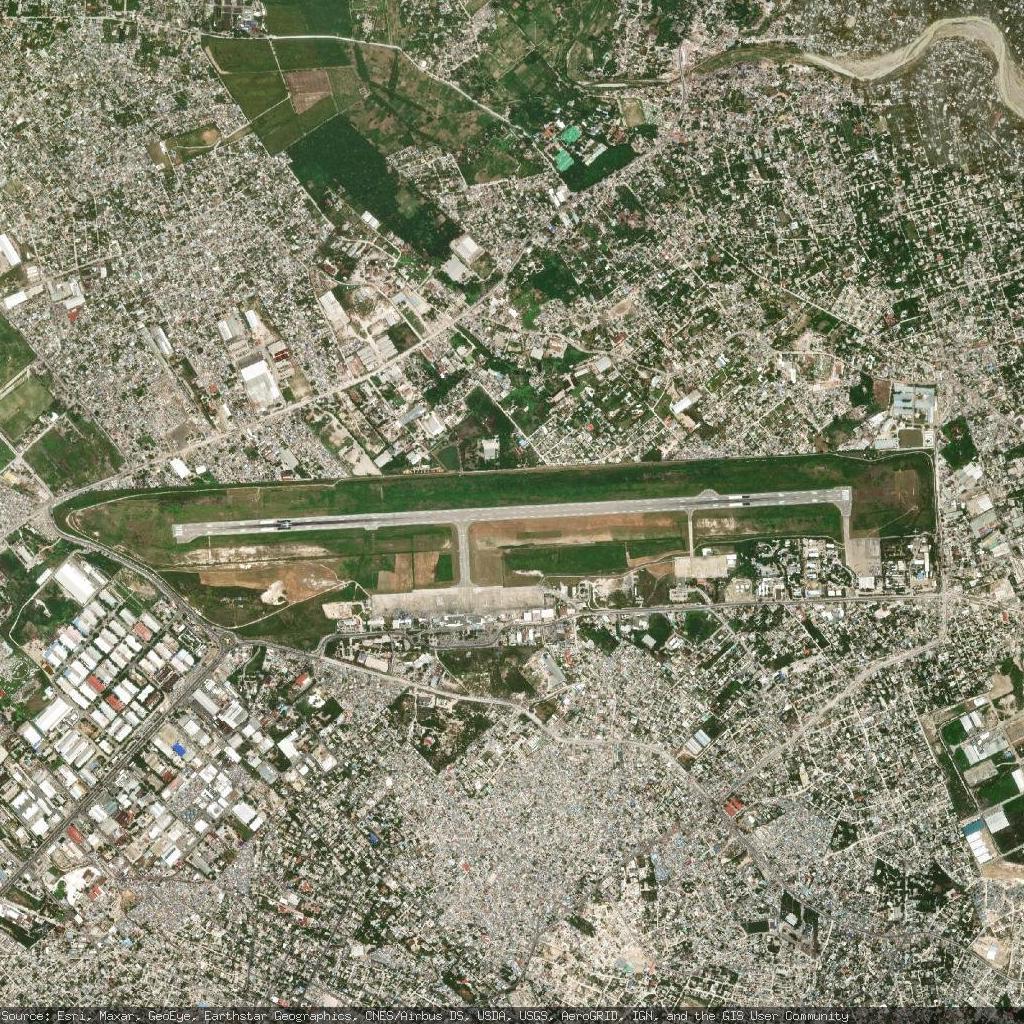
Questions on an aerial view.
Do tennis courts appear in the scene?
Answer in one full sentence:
No, no tennis court is visible in the view.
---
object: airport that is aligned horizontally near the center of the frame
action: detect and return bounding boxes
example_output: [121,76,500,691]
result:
[55,450,937,630]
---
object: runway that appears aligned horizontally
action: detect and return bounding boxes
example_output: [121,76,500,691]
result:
[172,486,852,543]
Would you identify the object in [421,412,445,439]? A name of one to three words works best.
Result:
building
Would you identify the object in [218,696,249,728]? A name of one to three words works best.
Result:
building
